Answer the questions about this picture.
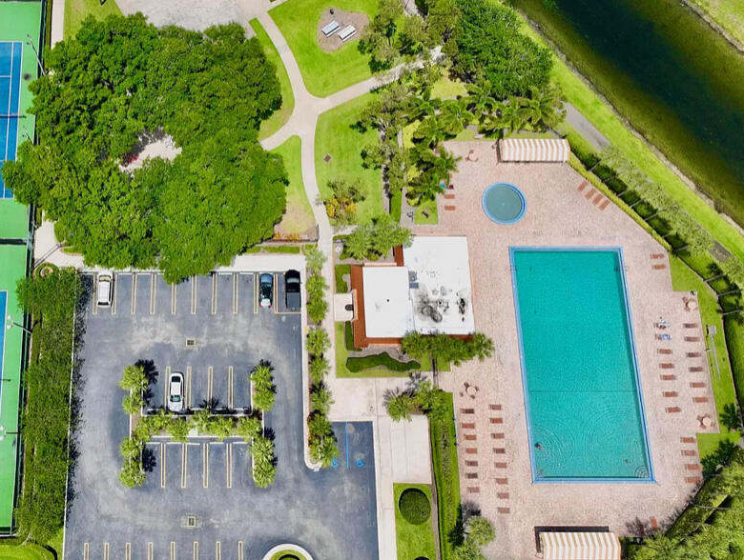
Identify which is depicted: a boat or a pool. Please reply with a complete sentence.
The image shows a pool.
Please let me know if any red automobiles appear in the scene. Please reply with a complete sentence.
No, I can see no red automobile in this picture.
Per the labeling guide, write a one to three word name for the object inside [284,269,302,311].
vehicle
